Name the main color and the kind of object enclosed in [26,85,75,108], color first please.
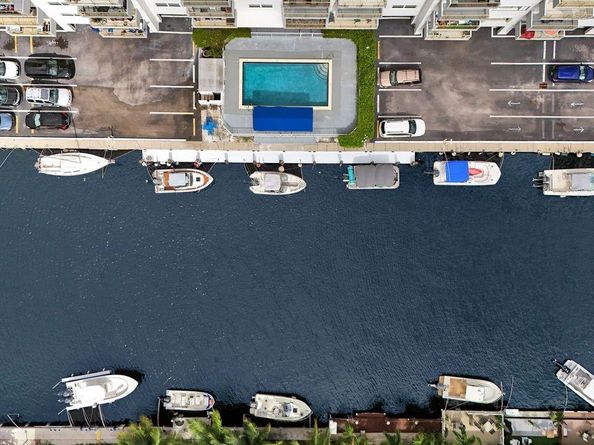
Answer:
white car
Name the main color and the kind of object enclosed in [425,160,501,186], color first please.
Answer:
white boat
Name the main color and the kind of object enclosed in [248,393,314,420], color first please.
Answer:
white boat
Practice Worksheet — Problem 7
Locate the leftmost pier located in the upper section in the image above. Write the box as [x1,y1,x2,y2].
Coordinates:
[142,151,172,163]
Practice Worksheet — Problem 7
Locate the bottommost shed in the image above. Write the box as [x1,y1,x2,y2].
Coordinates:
[198,57,224,96]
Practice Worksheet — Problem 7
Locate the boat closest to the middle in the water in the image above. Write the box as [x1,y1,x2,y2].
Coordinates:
[246,170,306,196]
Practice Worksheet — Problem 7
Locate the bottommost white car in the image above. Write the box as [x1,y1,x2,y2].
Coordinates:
[379,117,423,139]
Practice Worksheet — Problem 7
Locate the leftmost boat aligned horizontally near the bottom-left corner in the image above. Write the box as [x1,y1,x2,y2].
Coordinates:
[53,374,138,409]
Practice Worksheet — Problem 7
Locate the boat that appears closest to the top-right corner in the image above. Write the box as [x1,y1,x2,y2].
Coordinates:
[532,169,594,197]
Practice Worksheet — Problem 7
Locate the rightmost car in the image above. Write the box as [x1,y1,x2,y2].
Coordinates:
[549,64,594,85]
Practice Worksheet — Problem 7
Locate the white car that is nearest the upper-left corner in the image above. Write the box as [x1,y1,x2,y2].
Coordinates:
[0,58,23,81]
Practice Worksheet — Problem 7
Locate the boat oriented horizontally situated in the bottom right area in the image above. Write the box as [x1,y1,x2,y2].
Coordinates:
[429,373,504,403]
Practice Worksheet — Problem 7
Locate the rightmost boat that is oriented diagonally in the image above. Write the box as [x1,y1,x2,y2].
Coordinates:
[552,358,594,406]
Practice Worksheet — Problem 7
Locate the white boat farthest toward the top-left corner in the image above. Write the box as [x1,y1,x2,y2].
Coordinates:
[33,149,115,175]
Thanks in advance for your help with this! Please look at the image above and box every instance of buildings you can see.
[198,57,224,96]
[0,0,594,40]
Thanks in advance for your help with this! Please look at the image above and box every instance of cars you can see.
[0,58,23,81]
[379,117,423,139]
[25,55,78,81]
[26,85,75,108]
[549,64,594,85]
[379,67,420,88]
[0,114,17,133]
[28,110,74,132]
[0,84,26,106]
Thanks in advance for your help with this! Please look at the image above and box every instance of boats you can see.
[151,167,213,194]
[339,165,399,190]
[552,358,594,406]
[248,393,314,420]
[425,160,501,186]
[532,169,594,197]
[246,170,306,196]
[53,374,138,409]
[157,390,215,410]
[429,373,504,403]
[33,149,115,175]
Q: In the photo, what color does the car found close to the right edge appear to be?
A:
blue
